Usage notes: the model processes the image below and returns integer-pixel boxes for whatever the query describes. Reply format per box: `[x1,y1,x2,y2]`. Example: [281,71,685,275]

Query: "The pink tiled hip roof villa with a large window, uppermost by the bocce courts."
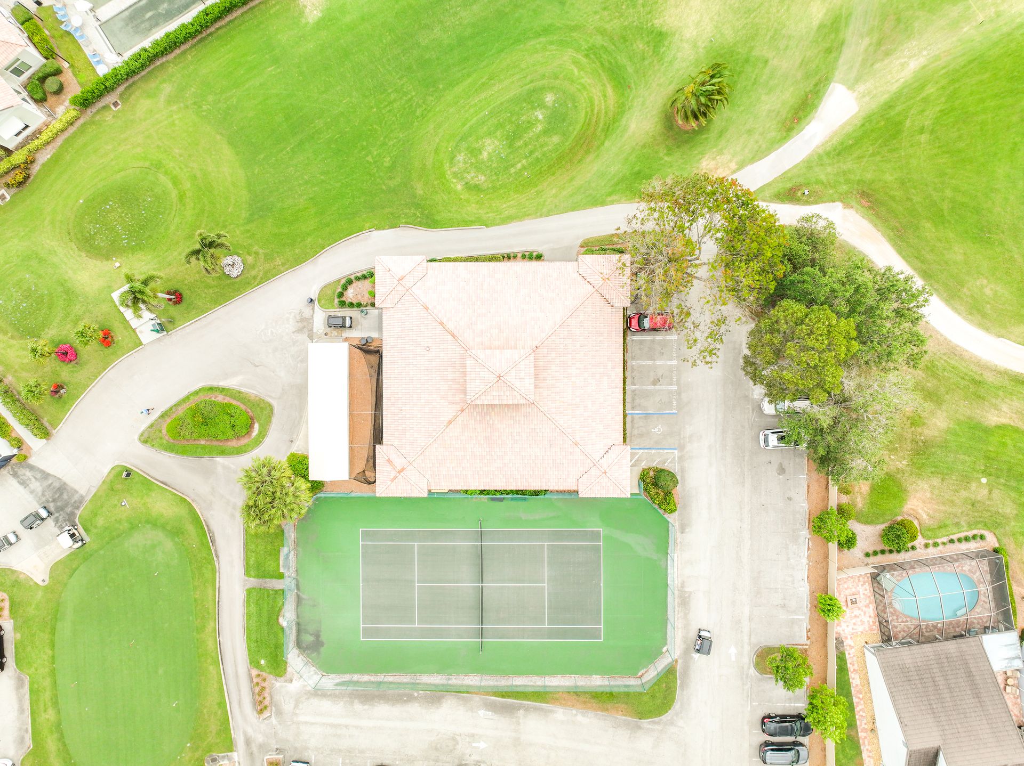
[0,12,46,88]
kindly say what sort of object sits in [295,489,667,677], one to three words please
tennis court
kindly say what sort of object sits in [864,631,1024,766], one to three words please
building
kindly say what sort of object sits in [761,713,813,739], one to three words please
car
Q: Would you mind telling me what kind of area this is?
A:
golf course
